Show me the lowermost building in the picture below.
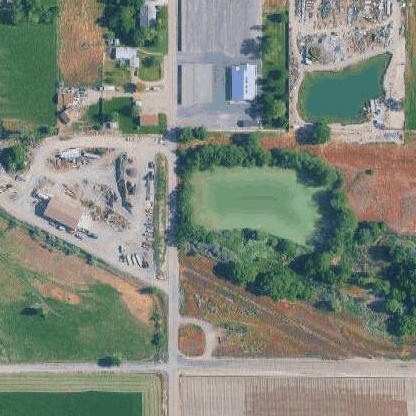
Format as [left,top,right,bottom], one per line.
[44,197,83,230]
